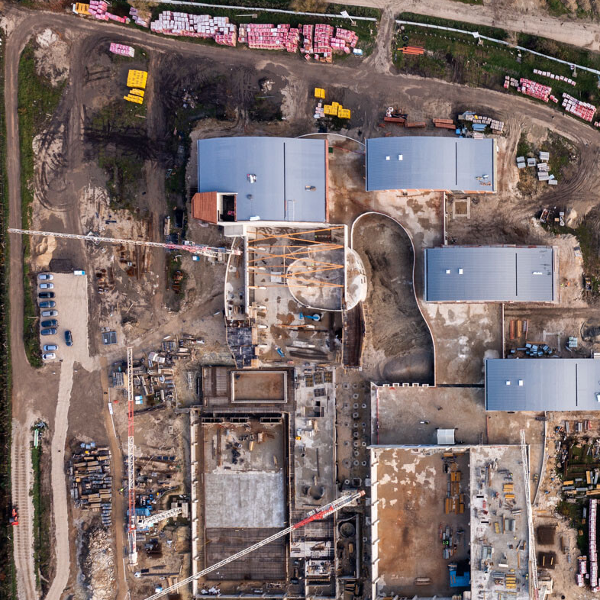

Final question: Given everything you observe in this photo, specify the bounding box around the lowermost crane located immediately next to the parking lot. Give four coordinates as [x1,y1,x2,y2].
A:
[143,488,369,600]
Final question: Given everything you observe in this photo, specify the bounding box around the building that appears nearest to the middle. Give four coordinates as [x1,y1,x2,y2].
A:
[218,223,352,317]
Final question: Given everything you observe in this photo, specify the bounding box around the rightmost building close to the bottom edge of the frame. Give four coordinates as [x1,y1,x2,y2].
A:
[366,444,532,600]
